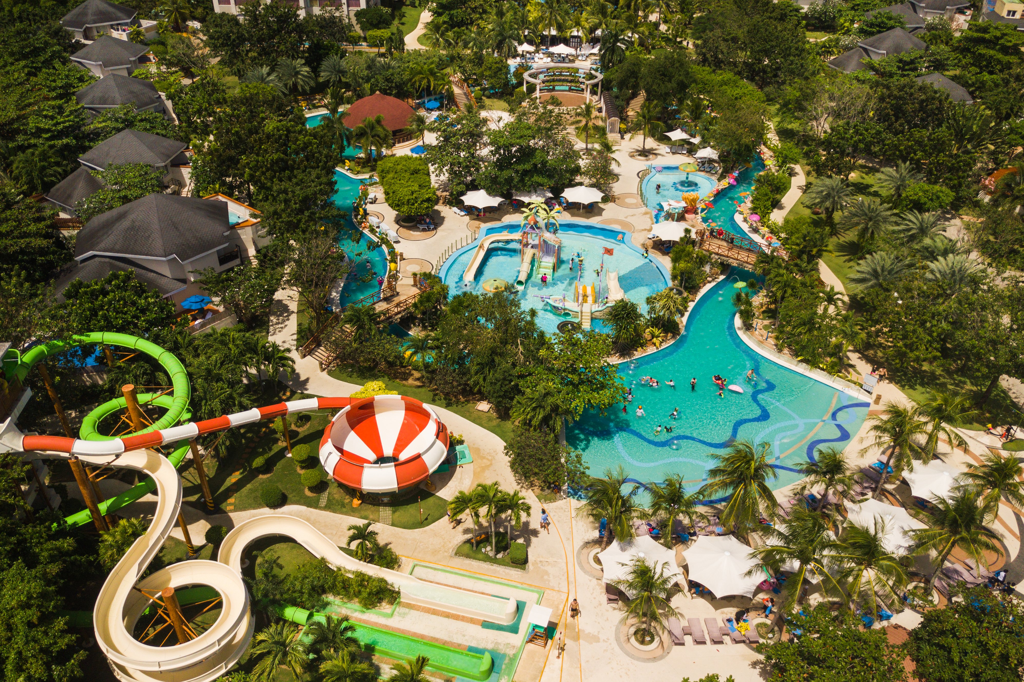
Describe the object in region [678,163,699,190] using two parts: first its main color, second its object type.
yellow fountain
